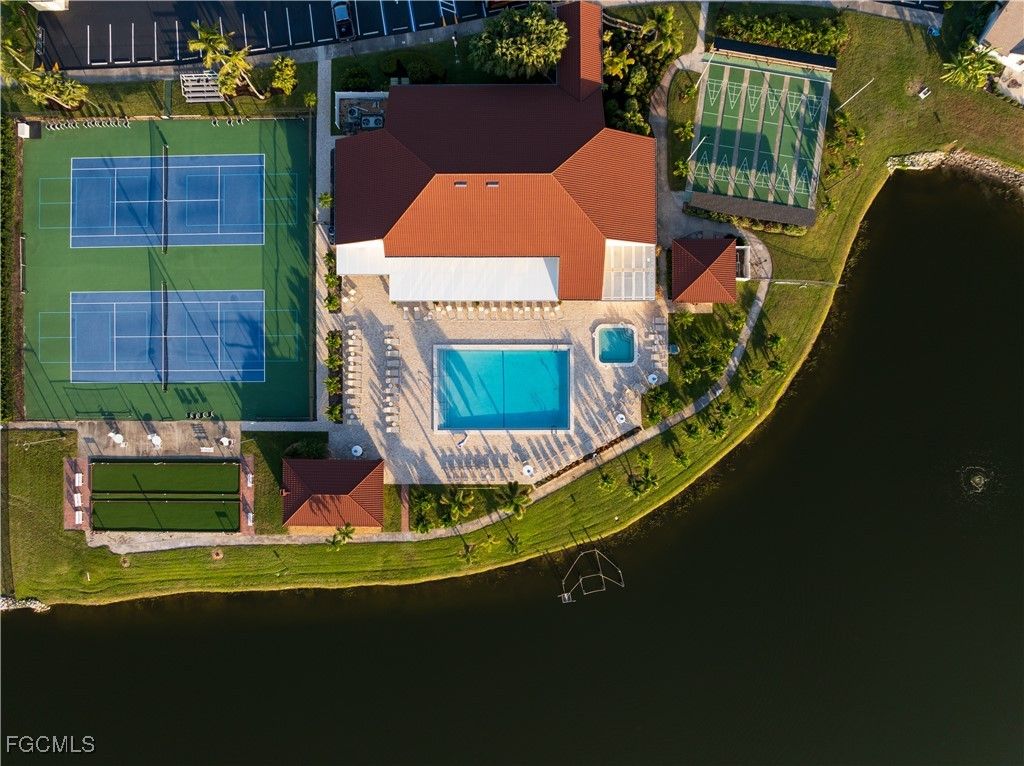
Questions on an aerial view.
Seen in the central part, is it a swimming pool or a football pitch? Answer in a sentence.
The one visible in the central part is a swimming pool.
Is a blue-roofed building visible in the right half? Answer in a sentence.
No, no blue-roofed building appears in the right half.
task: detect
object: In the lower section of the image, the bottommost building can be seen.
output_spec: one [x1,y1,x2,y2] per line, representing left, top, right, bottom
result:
[282,459,385,526]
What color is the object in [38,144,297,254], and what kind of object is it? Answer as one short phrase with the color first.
blue tennis court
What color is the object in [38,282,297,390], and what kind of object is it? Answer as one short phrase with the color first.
blue tennis court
